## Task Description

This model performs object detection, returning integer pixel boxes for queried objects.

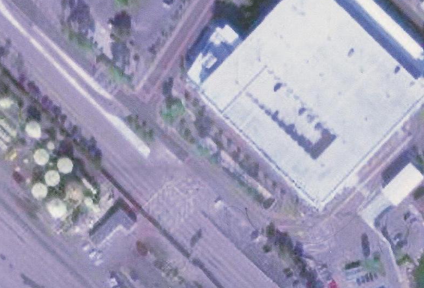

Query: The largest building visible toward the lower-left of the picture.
[91,211,135,247]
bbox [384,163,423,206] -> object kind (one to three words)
building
